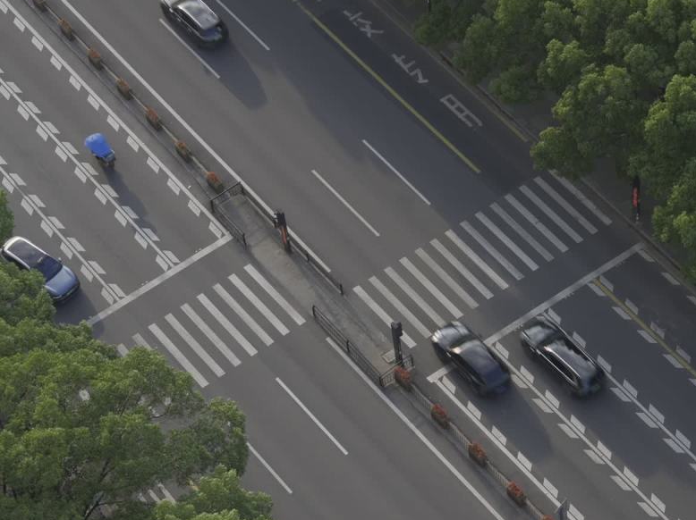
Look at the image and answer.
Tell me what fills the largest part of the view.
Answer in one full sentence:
For the most part, this view shows paved ground.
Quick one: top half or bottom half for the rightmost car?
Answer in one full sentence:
It is in the bottom half that the rightmost car appears.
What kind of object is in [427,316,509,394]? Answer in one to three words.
car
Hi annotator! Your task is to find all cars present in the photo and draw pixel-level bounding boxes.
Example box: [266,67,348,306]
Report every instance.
[160,0,226,39]
[518,313,602,393]
[0,237,77,302]
[427,316,509,394]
